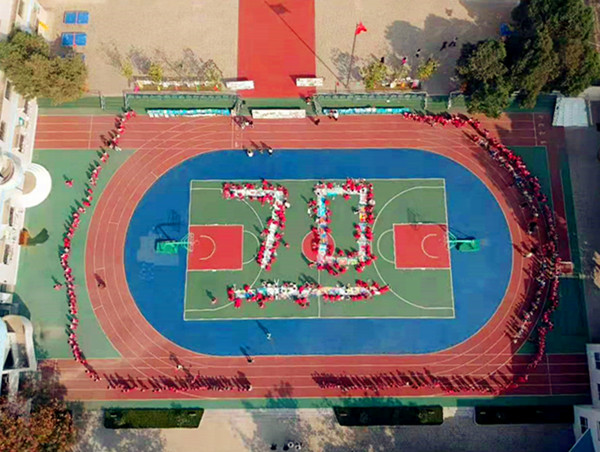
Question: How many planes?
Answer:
0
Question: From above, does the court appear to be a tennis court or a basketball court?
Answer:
basketball court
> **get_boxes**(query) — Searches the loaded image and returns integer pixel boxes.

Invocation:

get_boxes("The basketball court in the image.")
[184,178,455,320]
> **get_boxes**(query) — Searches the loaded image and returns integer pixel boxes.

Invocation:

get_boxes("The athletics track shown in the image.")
[32,111,592,399]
